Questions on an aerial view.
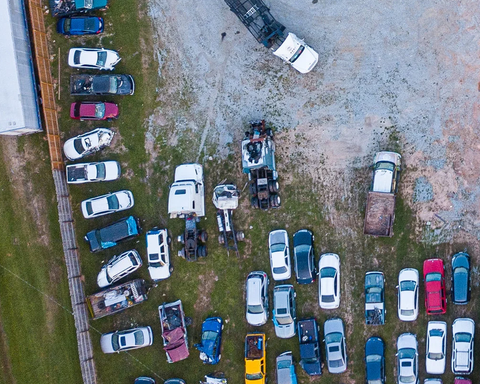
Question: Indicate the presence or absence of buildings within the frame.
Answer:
No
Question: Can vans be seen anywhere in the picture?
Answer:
Yes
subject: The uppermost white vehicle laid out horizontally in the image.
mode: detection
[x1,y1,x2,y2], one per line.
[66,46,119,70]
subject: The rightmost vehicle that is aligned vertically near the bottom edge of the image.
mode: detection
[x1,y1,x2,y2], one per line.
[450,318,477,376]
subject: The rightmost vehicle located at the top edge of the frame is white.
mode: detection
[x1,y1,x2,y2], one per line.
[259,19,322,77]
